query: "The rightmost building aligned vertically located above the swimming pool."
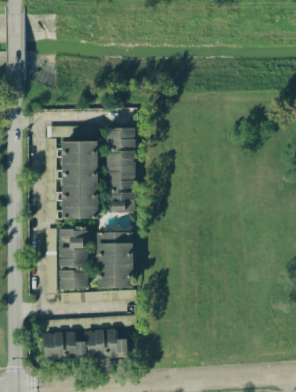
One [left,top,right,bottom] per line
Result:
[107,128,136,212]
